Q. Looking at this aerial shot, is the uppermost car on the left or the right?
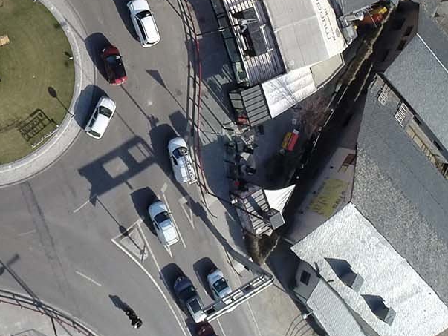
left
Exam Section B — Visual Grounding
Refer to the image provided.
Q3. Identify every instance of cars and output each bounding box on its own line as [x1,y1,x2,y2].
[202,263,234,306]
[186,315,213,336]
[147,198,180,250]
[83,94,117,142]
[127,0,159,48]
[99,43,129,88]
[166,136,197,189]
[170,270,210,327]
